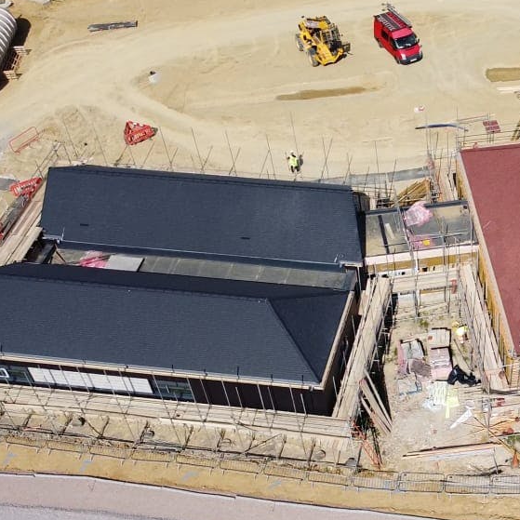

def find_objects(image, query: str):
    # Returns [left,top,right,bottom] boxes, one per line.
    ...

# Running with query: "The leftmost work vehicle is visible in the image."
[295,17,343,73]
